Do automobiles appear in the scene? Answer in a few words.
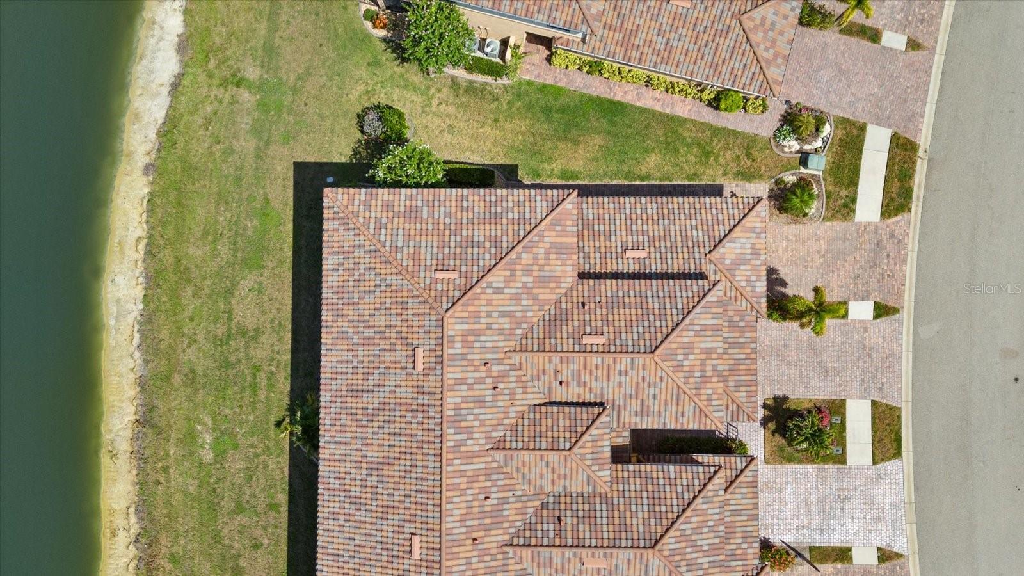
No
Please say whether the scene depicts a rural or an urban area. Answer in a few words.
urban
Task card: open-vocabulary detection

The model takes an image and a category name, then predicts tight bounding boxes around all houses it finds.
[314,186,776,576]
[376,0,797,101]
